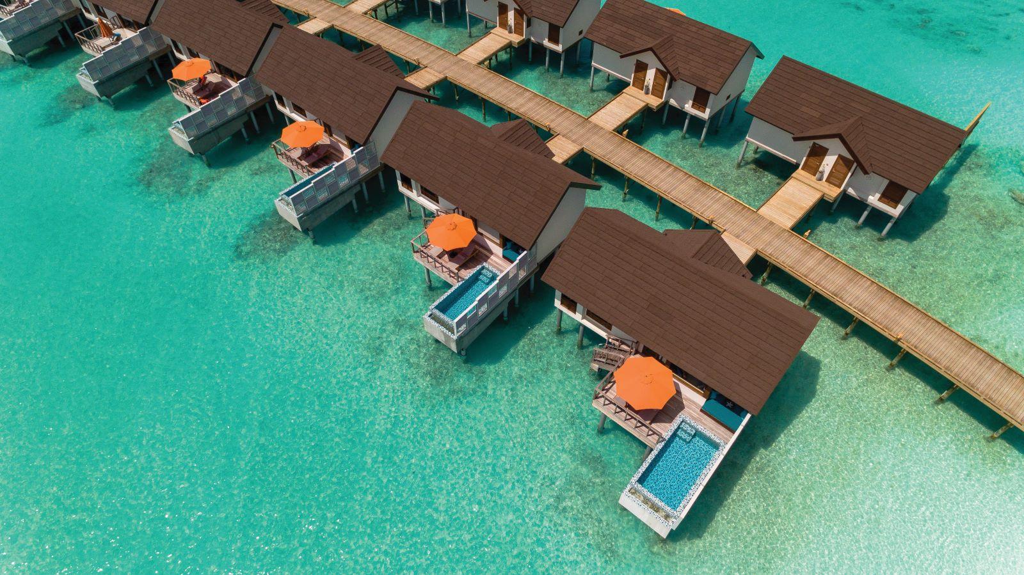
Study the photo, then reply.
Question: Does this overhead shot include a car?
No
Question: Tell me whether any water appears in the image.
Yes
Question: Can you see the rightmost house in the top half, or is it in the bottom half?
top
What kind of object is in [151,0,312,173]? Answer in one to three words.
house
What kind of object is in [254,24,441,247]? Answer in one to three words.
house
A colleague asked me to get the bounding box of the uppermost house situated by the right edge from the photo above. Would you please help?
[740,54,987,241]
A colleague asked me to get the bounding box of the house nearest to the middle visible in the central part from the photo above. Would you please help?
[379,99,603,364]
